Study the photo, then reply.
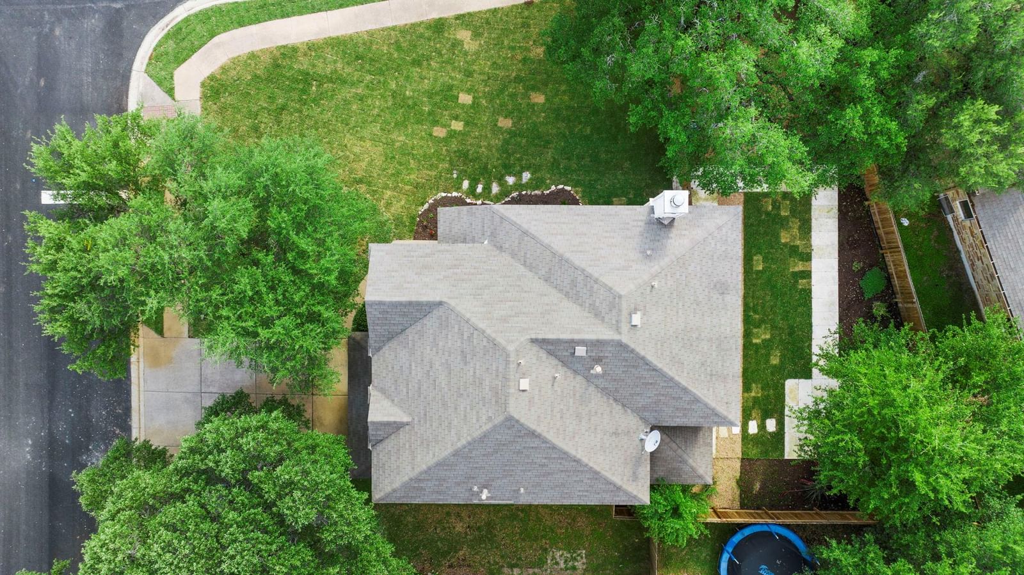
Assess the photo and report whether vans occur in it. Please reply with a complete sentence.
No, there is no van in the image.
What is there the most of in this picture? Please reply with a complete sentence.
For the most part, this view shows trees.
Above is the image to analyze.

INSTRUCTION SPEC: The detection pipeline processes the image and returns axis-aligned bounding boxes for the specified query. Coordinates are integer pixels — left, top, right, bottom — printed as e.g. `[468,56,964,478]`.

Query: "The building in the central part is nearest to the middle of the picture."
[348,191,744,505]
